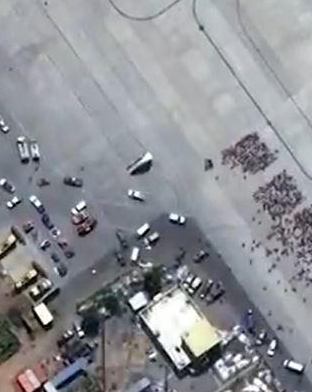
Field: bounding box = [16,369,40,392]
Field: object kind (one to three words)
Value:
shed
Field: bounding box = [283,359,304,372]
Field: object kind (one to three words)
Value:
vehicle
